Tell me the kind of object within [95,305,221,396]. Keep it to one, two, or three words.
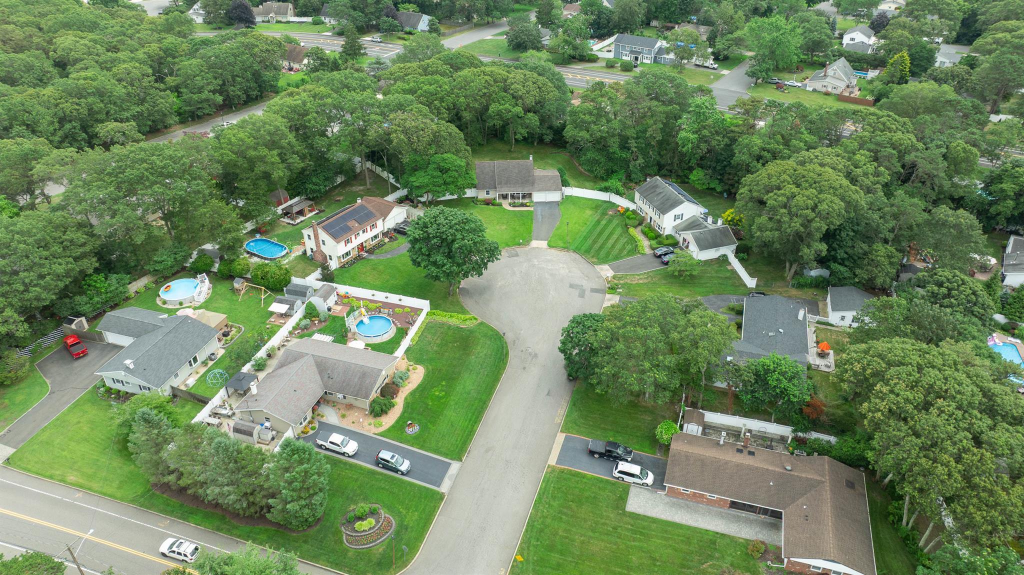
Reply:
house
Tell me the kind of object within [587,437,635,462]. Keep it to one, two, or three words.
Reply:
truck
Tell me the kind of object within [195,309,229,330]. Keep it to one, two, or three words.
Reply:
tent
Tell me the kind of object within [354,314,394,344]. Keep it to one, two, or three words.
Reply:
swimming pool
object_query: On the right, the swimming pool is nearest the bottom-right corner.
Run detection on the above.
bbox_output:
[989,342,1024,371]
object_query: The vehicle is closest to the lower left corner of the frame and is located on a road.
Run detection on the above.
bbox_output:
[155,536,204,564]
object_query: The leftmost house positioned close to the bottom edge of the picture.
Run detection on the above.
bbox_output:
[666,434,878,575]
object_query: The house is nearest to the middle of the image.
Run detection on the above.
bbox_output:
[475,152,563,201]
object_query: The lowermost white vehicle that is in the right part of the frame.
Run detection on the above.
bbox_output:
[610,459,656,488]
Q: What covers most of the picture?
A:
trees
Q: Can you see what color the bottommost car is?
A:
white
